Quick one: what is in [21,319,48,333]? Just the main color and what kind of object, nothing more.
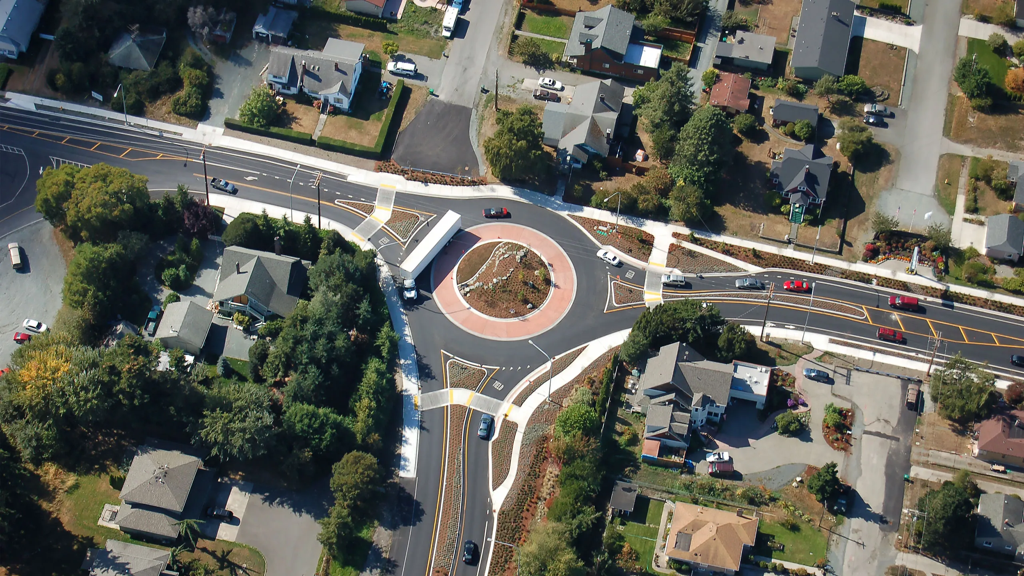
white car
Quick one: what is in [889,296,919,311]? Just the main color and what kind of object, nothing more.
red vehicle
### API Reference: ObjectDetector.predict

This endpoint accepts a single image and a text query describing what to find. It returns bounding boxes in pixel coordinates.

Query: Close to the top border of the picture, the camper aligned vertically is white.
[444,3,458,40]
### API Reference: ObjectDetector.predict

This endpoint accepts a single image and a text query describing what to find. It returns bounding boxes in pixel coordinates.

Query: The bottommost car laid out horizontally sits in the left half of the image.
[205,506,234,521]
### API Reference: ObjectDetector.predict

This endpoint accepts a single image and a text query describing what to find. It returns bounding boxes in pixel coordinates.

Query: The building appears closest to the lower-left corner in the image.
[81,540,171,576]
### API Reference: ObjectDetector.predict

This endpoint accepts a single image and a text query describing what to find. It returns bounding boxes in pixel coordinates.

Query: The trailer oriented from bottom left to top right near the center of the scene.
[400,209,461,276]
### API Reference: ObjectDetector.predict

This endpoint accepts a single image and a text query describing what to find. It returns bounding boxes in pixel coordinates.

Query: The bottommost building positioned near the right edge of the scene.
[975,496,1024,557]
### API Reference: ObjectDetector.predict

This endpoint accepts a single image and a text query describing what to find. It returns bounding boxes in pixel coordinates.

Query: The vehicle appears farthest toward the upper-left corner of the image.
[8,243,21,269]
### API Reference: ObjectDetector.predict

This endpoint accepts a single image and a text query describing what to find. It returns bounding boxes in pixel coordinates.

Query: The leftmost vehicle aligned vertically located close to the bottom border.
[464,541,476,565]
